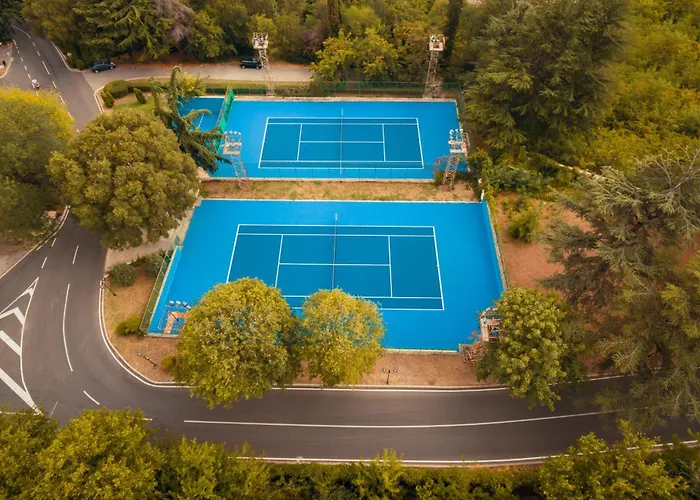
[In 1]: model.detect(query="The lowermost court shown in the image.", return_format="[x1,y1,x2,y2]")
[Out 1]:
[152,199,500,351]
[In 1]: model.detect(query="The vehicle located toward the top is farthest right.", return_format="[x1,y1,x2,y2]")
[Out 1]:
[238,54,263,67]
